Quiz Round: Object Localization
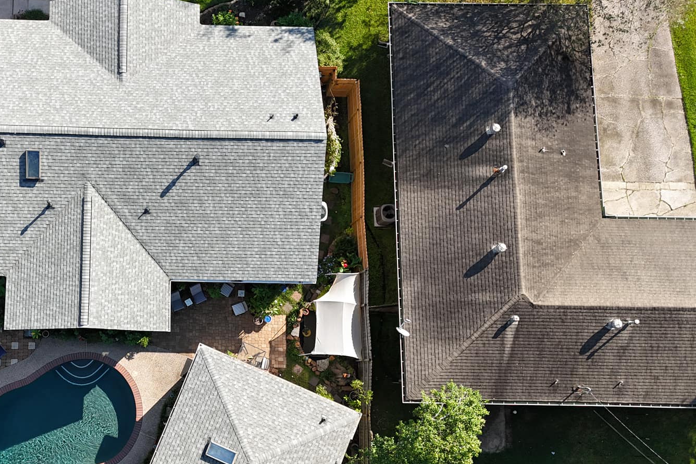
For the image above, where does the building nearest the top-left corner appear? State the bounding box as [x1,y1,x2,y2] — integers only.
[0,0,325,332]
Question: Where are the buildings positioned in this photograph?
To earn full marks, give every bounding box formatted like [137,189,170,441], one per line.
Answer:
[147,342,363,464]
[369,0,696,407]
[0,0,325,332]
